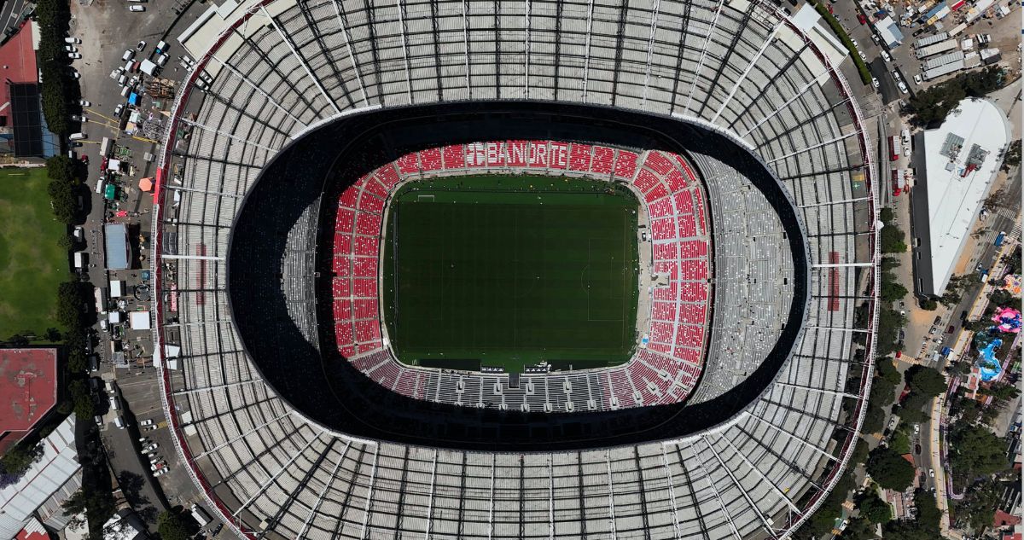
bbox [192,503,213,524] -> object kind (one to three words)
truck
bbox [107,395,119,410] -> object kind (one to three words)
vehicle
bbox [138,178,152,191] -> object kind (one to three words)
umbrella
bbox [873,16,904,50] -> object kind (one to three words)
shed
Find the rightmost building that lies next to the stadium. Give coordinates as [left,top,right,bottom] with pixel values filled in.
[913,97,1010,297]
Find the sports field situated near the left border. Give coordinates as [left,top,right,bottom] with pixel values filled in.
[0,166,66,339]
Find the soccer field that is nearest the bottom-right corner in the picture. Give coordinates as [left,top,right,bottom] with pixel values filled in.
[385,174,639,372]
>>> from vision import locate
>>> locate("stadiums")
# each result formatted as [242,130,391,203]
[149,0,882,540]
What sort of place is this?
sports ground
